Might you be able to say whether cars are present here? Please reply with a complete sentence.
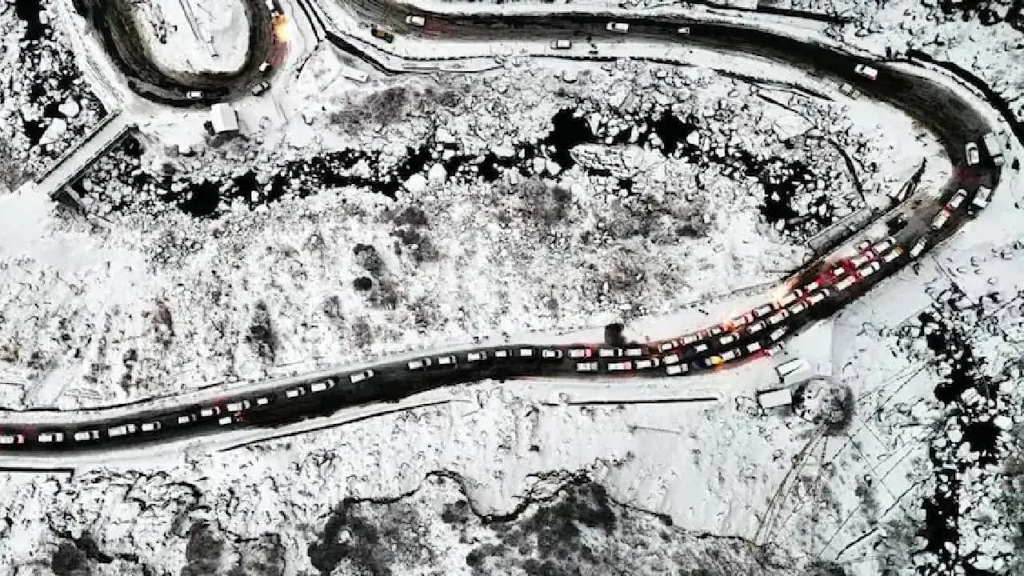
Yes, the frame does contain a car.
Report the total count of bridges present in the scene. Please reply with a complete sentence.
The picture shows 1 bridge.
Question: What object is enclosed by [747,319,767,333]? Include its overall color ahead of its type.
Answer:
white car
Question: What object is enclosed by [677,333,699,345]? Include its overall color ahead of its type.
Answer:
white vehicle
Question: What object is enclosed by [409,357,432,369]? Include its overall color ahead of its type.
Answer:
white vehicle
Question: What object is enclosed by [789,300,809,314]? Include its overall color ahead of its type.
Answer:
white car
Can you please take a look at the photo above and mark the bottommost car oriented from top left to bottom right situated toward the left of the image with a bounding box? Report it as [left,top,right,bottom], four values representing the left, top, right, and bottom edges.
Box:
[372,26,393,44]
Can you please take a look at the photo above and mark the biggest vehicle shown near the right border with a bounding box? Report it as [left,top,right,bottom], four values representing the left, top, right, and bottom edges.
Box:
[981,131,1008,167]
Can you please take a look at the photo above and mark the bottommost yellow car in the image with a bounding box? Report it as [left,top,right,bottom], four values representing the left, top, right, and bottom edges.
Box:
[706,354,726,366]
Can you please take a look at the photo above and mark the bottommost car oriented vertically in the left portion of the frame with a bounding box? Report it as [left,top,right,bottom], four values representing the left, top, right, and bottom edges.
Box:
[275,21,288,45]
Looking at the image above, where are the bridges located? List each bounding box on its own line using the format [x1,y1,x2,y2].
[31,107,137,221]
